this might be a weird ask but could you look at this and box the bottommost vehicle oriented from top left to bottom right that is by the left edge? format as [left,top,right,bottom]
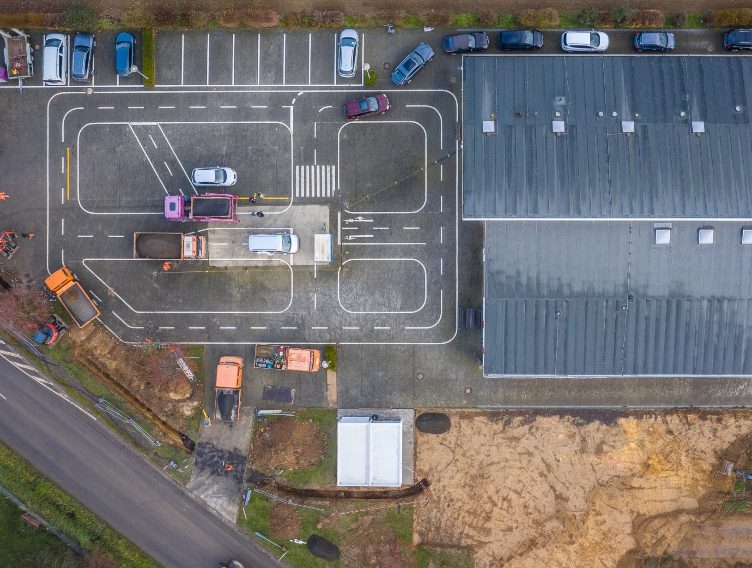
[37,262,102,331]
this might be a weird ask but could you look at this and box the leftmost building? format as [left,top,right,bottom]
[337,413,370,486]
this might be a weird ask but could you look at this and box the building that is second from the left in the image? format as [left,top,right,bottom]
[370,416,403,486]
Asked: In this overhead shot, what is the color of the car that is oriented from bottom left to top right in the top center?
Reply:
blue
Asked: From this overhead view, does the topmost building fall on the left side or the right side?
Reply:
right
